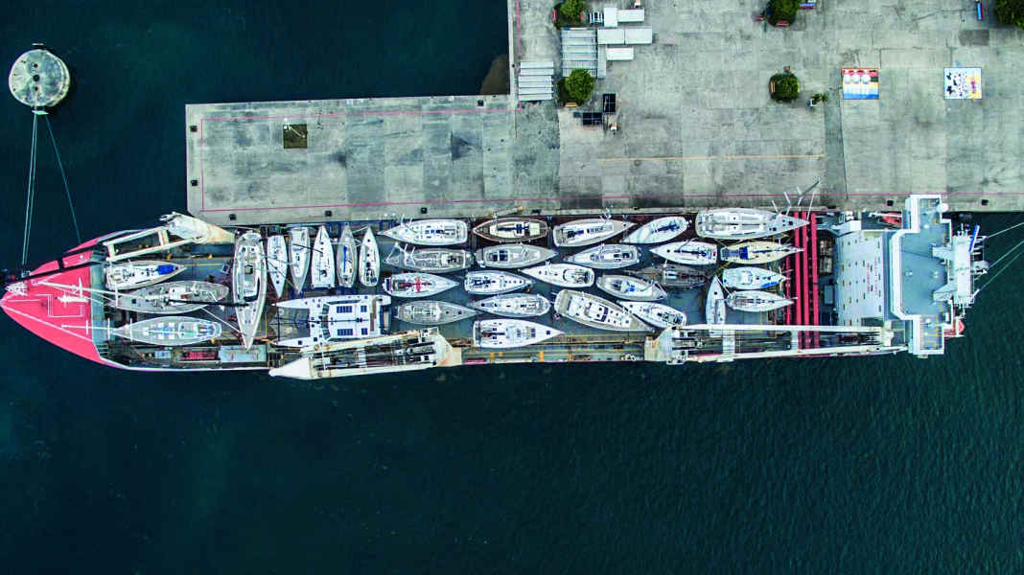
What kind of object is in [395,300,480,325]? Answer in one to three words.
boat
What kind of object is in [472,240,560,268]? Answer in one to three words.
boat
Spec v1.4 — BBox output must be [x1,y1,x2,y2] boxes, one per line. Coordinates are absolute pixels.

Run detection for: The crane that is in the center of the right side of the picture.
[643,325,907,365]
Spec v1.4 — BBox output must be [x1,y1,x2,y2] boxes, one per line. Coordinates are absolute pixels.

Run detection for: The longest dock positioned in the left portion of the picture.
[186,93,559,228]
